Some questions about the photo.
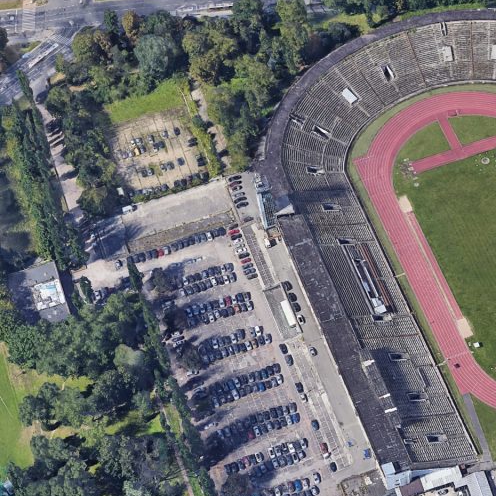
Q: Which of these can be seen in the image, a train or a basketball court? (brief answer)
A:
train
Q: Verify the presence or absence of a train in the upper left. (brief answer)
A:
Yes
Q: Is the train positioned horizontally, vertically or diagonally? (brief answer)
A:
diagonally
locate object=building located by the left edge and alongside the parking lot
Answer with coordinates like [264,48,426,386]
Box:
[10,261,68,329]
